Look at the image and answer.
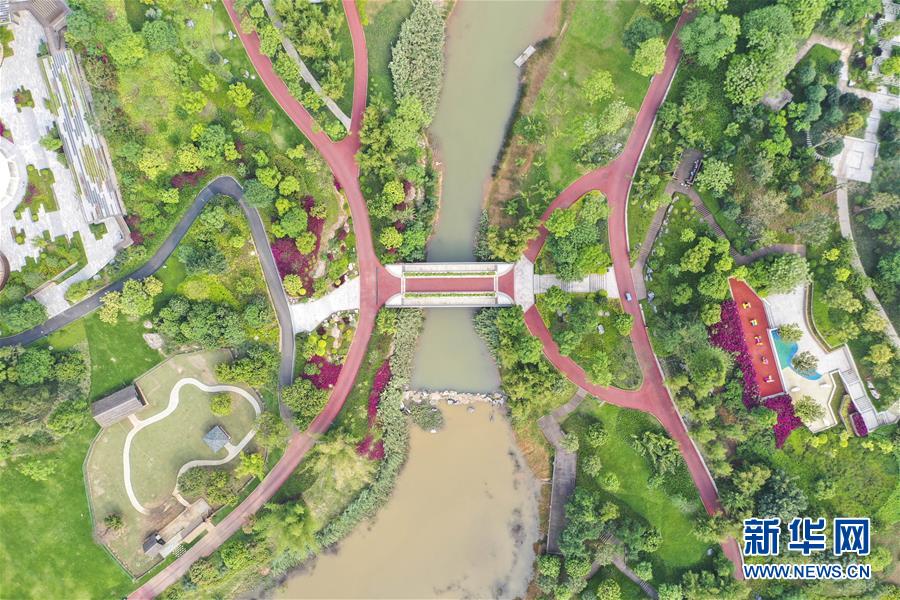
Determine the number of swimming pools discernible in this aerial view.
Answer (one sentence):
There is 1 swimming pool in the image.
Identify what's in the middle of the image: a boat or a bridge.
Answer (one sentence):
Looking in the middle of the image, you will find a bridge.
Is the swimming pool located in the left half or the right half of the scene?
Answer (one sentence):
The swimming pool is on the right side of the image.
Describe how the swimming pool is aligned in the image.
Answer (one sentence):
The swimming pool is oriented at an angle.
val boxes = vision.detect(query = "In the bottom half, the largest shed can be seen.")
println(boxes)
[92,383,151,427]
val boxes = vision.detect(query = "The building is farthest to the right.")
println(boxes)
[203,424,233,452]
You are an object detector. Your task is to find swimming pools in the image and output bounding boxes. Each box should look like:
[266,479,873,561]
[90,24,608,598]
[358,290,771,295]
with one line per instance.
[773,329,822,380]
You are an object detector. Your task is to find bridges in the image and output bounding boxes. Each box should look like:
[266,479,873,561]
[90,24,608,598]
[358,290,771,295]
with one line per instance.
[377,264,516,307]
